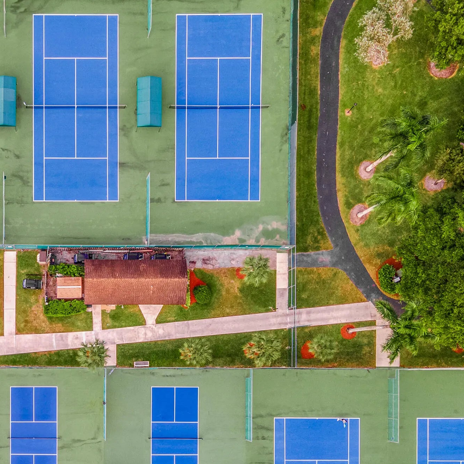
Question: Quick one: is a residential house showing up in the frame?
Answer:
Yes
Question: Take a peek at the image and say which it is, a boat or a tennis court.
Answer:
tennis court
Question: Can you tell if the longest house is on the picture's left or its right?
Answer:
left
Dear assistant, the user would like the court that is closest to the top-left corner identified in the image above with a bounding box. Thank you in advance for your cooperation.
[33,14,119,202]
